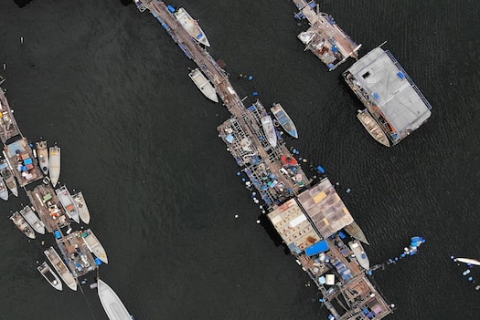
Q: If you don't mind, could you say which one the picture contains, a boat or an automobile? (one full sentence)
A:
The one in the frame is a boat.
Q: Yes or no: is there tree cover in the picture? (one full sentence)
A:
No, no tree cover is visible.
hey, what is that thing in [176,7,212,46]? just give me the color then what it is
white boat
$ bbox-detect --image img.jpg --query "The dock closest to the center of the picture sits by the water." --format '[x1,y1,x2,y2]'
[235,108,301,198]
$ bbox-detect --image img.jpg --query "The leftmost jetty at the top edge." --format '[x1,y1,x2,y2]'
[141,0,250,122]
